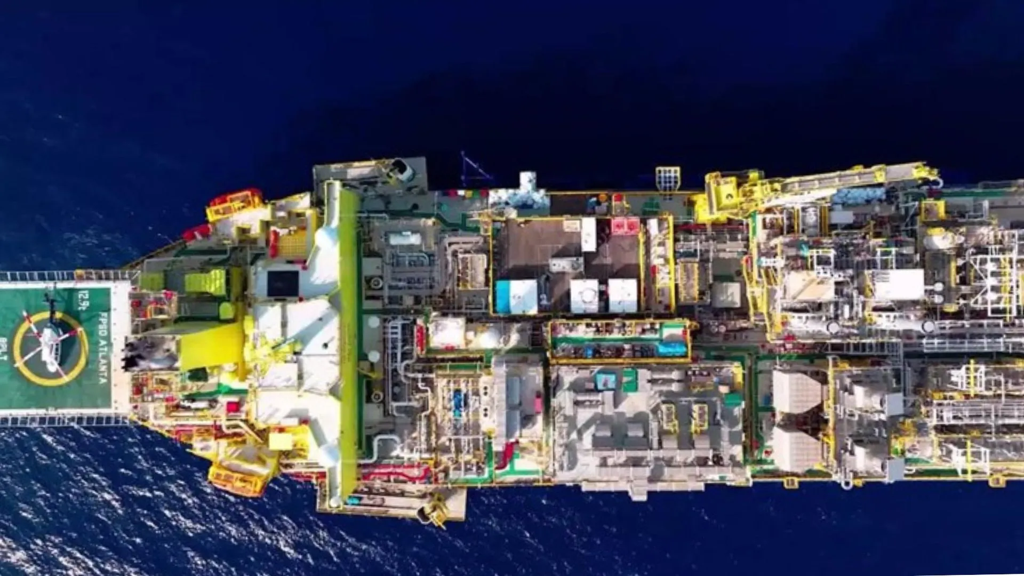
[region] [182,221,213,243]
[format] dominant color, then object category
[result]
red boat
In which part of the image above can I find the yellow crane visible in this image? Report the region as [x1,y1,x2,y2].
[690,162,944,223]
